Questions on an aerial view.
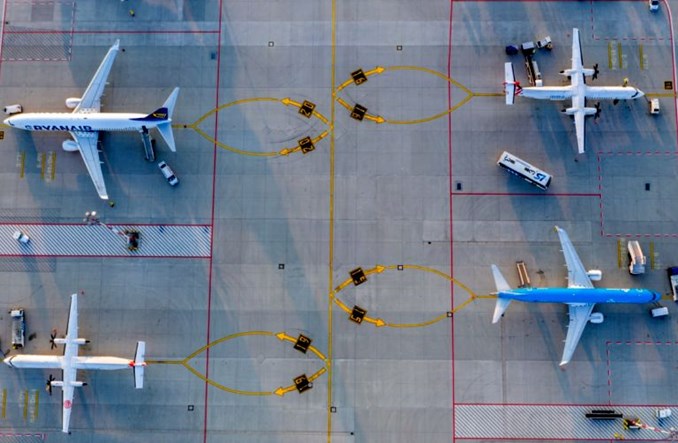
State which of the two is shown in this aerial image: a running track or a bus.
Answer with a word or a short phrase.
bus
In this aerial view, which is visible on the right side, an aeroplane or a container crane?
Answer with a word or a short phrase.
aeroplane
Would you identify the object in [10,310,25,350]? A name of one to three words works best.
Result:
vehicle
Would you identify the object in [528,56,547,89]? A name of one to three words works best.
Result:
work vehicle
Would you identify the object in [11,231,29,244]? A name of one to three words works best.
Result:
vehicle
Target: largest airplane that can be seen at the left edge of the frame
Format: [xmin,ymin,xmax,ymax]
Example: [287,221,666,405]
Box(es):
[5,39,179,199]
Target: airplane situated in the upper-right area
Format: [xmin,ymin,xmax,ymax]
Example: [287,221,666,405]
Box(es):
[503,31,644,154]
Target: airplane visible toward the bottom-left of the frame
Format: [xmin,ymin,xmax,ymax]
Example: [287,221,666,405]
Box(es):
[5,296,152,432]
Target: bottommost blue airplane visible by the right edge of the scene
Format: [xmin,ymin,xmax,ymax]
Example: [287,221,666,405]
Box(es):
[490,225,660,365]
